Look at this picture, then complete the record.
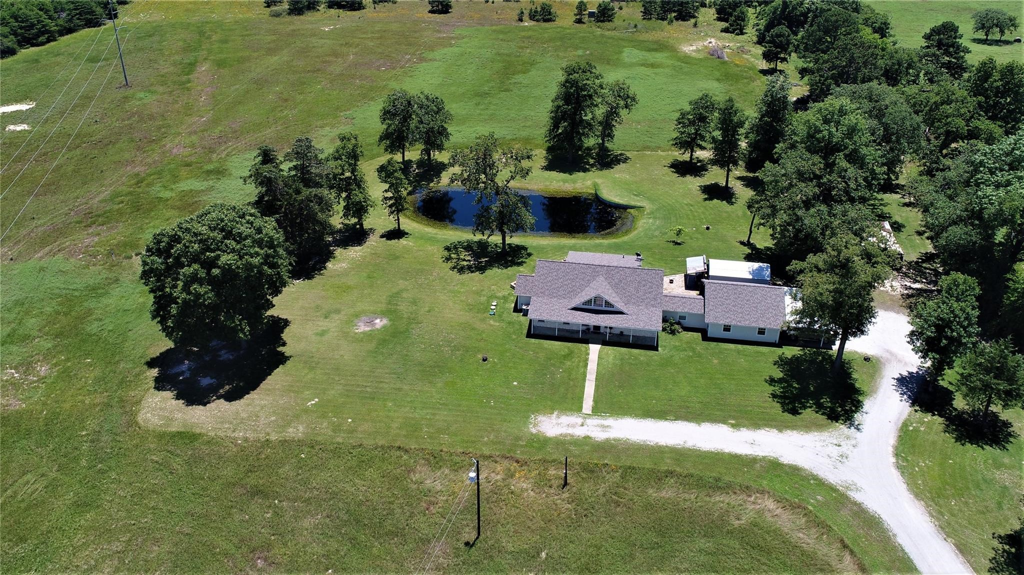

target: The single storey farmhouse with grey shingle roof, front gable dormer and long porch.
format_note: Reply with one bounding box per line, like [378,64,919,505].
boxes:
[515,251,665,346]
